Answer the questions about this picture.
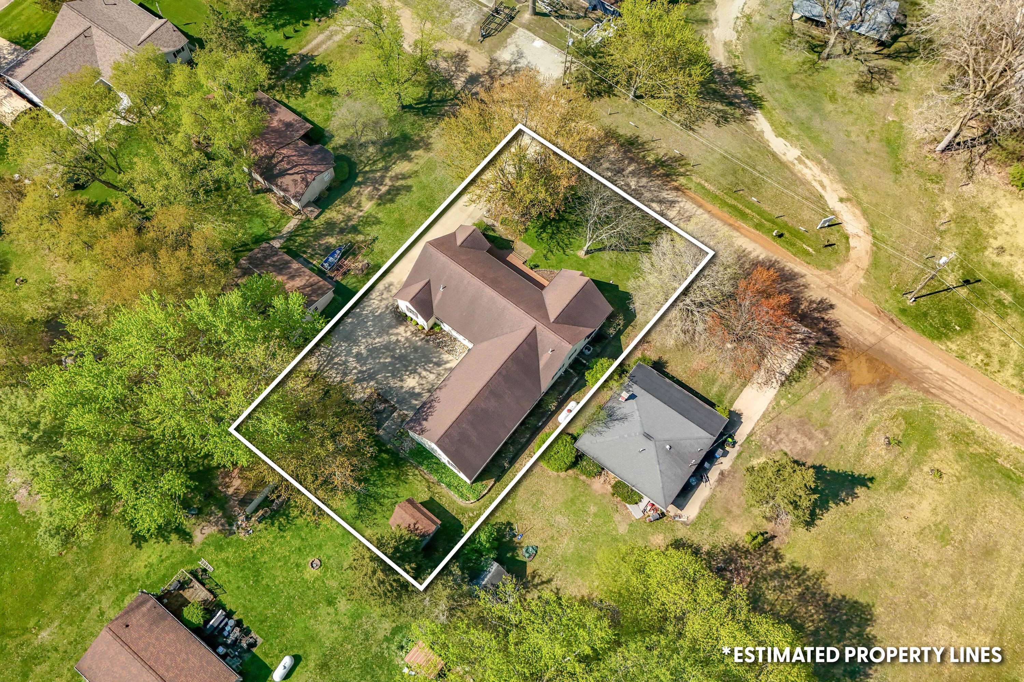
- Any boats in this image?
Yes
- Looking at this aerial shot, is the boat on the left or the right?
left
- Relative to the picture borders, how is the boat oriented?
on a diagonal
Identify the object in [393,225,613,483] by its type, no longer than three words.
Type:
house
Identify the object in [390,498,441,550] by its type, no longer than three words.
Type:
shed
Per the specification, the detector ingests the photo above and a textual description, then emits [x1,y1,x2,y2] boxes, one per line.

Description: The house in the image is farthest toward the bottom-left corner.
[76,592,247,682]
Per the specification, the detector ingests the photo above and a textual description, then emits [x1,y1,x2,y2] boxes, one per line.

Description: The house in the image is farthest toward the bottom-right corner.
[574,358,730,511]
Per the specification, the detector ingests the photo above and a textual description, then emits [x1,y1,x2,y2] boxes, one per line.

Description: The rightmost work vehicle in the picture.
[723,438,736,454]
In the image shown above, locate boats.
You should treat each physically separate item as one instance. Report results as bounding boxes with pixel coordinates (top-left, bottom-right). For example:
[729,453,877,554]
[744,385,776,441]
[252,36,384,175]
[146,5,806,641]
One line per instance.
[314,238,345,271]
